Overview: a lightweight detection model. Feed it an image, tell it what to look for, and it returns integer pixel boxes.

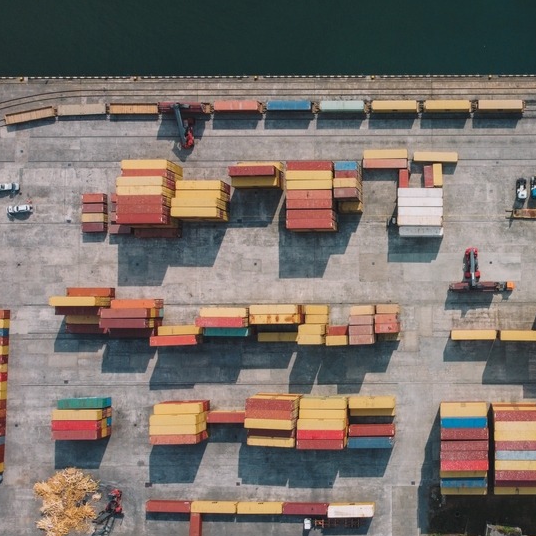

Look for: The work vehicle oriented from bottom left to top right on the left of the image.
[89,488,128,531]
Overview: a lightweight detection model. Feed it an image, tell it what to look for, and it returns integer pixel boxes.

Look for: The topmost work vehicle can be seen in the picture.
[161,101,196,148]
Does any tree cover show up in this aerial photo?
No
